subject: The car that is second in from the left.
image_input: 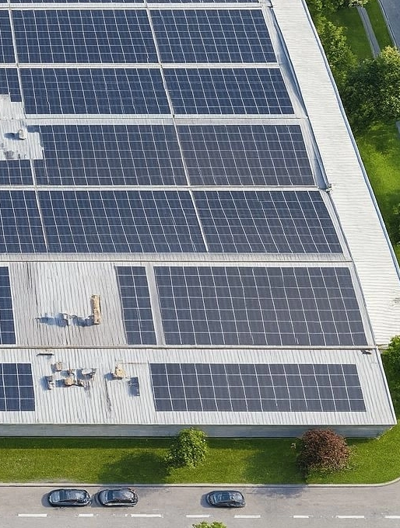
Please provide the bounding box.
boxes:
[97,487,139,508]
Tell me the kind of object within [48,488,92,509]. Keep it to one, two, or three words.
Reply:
car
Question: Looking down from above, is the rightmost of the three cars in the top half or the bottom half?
bottom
